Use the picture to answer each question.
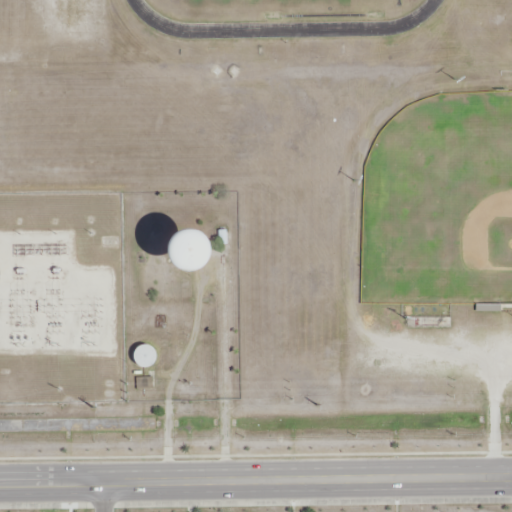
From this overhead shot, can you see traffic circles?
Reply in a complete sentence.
No, there isn't any traffic circle down there.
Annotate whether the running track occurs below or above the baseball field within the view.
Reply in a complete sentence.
It's above the baseball field that the running track shows up.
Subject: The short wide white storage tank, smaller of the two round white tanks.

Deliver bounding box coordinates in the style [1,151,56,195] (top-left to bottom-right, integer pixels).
[132,344,157,376]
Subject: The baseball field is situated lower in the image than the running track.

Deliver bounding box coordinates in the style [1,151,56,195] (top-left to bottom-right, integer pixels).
[361,91,512,304]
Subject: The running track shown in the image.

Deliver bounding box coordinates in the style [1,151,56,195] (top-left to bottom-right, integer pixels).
[130,0,445,38]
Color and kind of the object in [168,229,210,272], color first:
white water tower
